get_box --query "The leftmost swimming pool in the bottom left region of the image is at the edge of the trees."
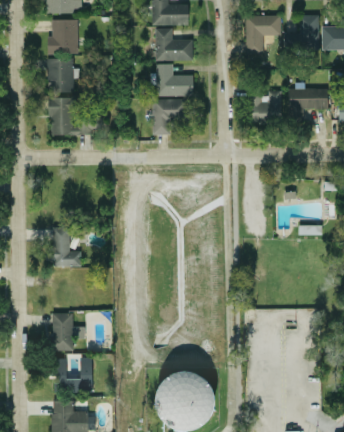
[66,354,81,379]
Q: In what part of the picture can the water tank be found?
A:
bottom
